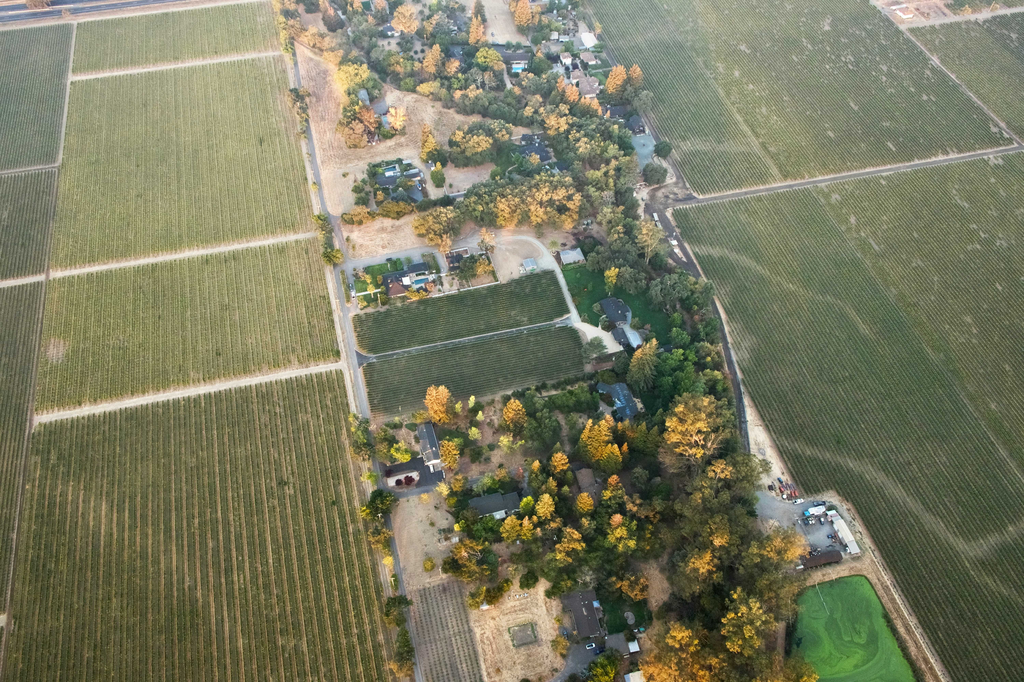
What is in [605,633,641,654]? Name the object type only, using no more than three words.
building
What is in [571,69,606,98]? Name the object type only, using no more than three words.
house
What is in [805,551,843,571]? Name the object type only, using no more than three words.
barn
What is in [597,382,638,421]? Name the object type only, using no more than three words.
house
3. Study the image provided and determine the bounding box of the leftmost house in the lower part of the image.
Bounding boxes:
[416,424,440,467]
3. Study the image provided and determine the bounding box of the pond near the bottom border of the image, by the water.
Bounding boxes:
[791,576,914,682]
